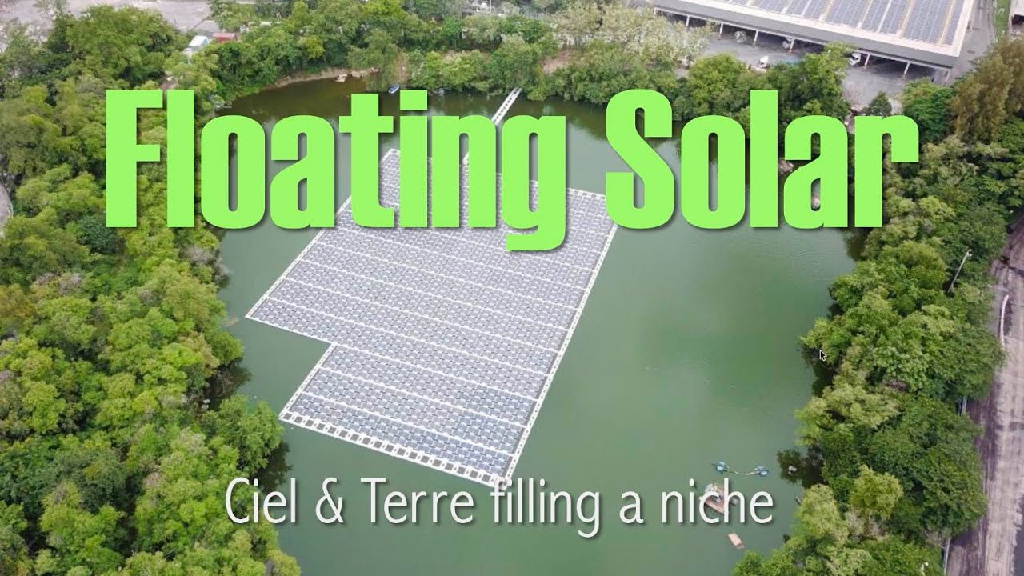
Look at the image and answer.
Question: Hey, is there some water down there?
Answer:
Yes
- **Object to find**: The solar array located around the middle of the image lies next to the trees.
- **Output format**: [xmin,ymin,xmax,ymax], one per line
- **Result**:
[246,149,624,489]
